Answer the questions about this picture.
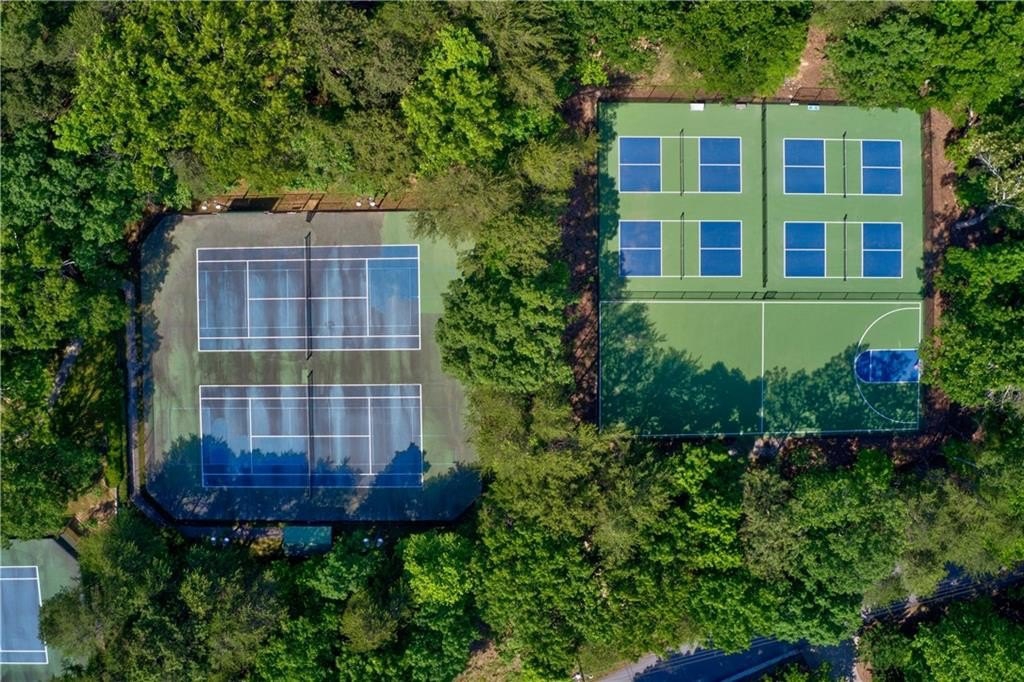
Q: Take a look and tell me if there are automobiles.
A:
No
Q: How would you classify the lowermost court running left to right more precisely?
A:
tennis court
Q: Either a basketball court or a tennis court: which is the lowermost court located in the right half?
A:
basketball court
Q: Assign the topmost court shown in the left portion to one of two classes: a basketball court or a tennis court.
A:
tennis court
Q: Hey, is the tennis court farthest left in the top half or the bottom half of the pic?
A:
bottom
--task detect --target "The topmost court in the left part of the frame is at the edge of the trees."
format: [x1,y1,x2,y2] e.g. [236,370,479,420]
[197,245,421,352]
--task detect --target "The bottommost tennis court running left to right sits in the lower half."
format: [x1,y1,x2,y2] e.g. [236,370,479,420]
[200,384,423,488]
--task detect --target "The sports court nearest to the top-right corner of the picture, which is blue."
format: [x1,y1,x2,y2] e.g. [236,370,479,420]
[784,138,901,195]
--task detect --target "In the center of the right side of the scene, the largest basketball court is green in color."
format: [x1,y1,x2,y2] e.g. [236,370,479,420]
[598,299,921,436]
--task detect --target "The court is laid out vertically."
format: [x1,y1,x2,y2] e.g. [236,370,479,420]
[0,566,47,664]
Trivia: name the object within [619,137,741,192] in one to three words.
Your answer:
sports court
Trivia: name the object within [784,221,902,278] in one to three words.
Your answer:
sports court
